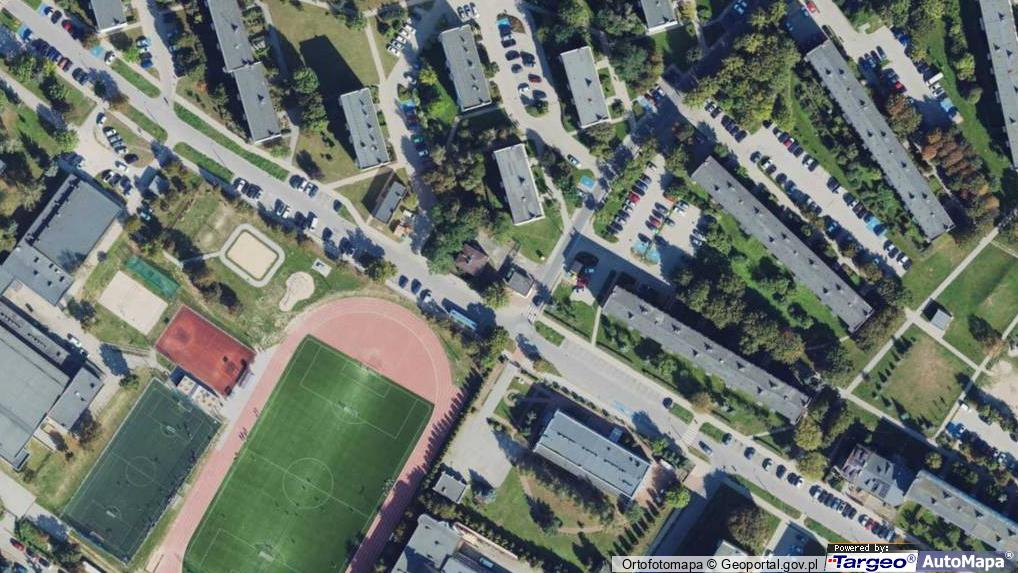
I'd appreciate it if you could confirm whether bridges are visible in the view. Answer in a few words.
No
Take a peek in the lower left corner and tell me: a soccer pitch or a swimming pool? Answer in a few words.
soccer pitch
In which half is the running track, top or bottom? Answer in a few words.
bottom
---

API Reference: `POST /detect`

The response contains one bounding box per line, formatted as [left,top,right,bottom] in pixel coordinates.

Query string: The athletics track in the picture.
[151,295,455,573]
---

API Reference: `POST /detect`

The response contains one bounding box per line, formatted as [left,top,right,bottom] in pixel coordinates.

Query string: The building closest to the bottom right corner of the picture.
[904,471,1018,564]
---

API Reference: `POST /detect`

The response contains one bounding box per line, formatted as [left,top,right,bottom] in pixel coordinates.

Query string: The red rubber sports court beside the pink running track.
[156,305,254,397]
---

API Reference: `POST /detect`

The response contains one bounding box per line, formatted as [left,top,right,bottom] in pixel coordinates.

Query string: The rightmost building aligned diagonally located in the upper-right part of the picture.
[805,39,955,243]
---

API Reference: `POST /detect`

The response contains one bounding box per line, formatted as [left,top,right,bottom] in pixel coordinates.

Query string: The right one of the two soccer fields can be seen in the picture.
[185,334,434,573]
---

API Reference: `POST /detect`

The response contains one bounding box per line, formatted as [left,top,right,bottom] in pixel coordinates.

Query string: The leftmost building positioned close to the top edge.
[90,0,128,33]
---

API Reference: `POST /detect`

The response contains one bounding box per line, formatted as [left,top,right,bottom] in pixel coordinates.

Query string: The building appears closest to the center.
[503,267,535,297]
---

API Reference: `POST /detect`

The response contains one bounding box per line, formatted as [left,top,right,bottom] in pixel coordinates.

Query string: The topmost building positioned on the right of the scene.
[635,0,677,32]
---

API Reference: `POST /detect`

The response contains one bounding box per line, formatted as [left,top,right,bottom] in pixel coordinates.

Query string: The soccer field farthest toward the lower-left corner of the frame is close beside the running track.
[65,378,221,564]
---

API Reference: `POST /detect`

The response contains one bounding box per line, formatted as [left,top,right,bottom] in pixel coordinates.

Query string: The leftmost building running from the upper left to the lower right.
[0,302,72,367]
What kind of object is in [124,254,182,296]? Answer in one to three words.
sports court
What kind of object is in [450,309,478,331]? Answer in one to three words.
bus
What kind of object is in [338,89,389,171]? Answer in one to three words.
building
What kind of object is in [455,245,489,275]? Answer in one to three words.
house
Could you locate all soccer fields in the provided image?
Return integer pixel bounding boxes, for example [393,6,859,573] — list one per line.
[185,334,434,573]
[65,378,221,564]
